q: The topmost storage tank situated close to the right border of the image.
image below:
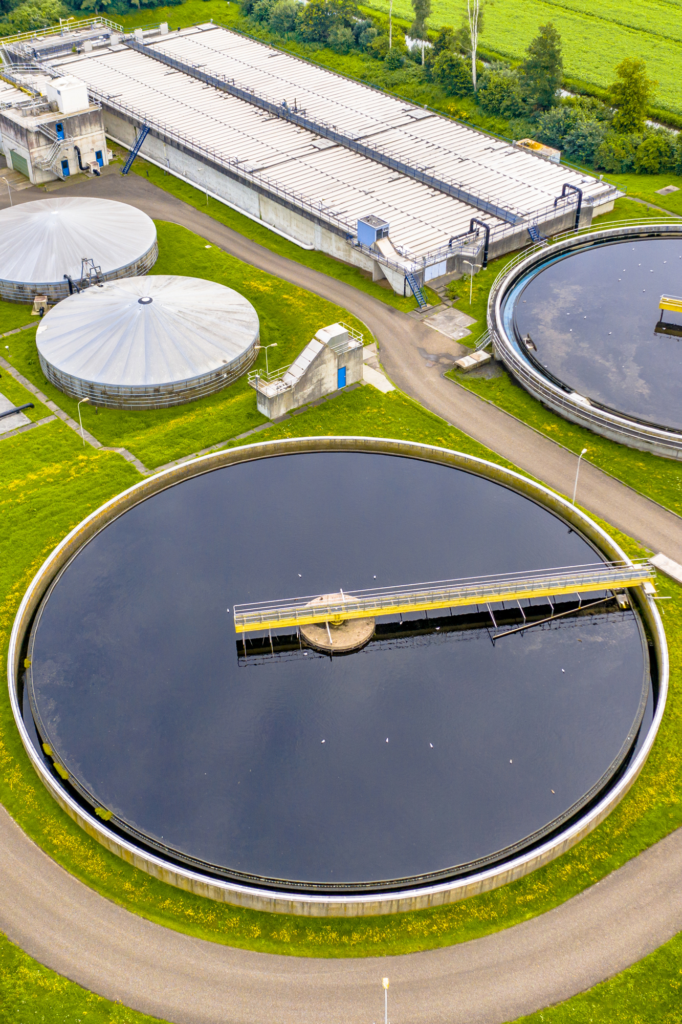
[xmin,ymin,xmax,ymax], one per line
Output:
[487,220,682,462]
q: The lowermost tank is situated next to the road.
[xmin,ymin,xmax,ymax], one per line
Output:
[6,436,667,916]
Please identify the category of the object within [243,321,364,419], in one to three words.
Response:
house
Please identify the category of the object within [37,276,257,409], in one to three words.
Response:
storage tank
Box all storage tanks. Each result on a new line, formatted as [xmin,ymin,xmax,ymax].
[6,436,667,916]
[37,276,257,409]
[487,220,682,462]
[0,196,156,305]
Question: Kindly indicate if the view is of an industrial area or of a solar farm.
industrial area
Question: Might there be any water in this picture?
Yes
